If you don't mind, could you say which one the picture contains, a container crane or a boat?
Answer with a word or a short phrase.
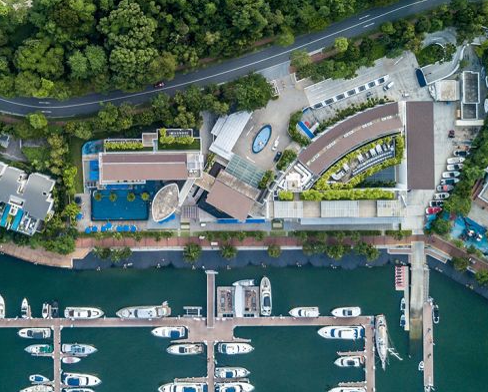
boat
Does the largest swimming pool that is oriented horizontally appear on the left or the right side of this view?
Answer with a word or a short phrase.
left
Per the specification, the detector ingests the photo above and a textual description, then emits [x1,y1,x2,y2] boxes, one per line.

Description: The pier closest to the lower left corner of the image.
[30,327,90,392]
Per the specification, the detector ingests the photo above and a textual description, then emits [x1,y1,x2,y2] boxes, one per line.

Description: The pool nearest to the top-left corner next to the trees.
[82,140,105,154]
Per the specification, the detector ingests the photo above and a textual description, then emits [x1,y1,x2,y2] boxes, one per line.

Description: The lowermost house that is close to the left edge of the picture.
[0,166,59,237]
